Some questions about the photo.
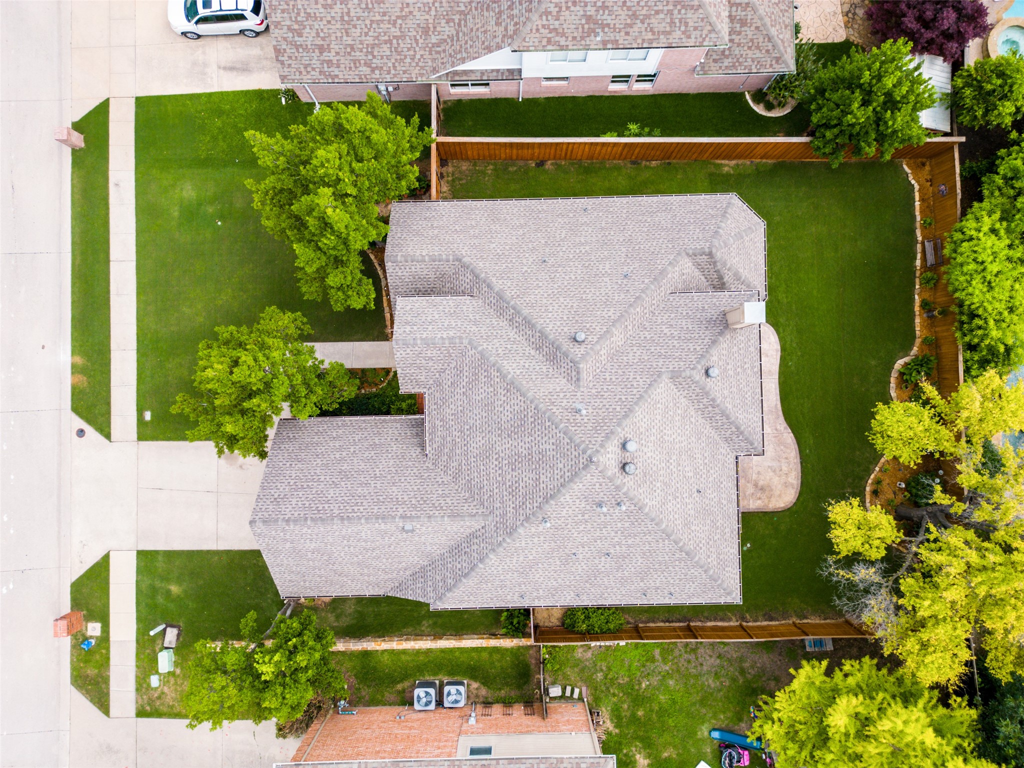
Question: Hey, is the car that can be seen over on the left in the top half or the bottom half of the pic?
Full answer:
The top half of the photo is where the car that can be seen over on the left is.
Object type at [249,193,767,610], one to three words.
house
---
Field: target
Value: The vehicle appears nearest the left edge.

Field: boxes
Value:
[168,0,273,42]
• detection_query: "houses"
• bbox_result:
[249,193,767,610]
[268,0,796,104]
[273,696,616,768]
